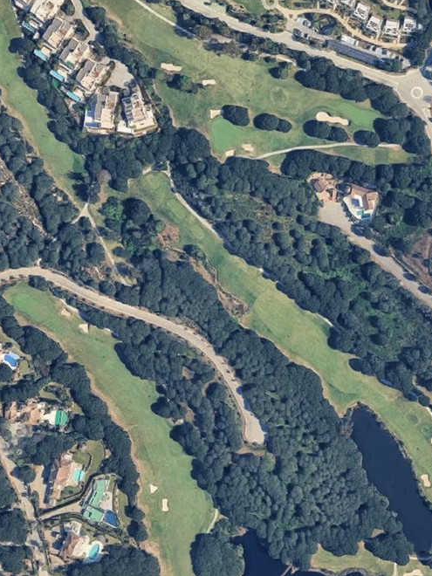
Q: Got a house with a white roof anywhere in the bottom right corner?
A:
No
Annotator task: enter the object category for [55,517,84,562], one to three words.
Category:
house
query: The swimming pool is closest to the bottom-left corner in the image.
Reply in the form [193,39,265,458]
[86,541,101,562]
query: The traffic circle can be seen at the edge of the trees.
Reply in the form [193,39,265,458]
[394,69,432,112]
